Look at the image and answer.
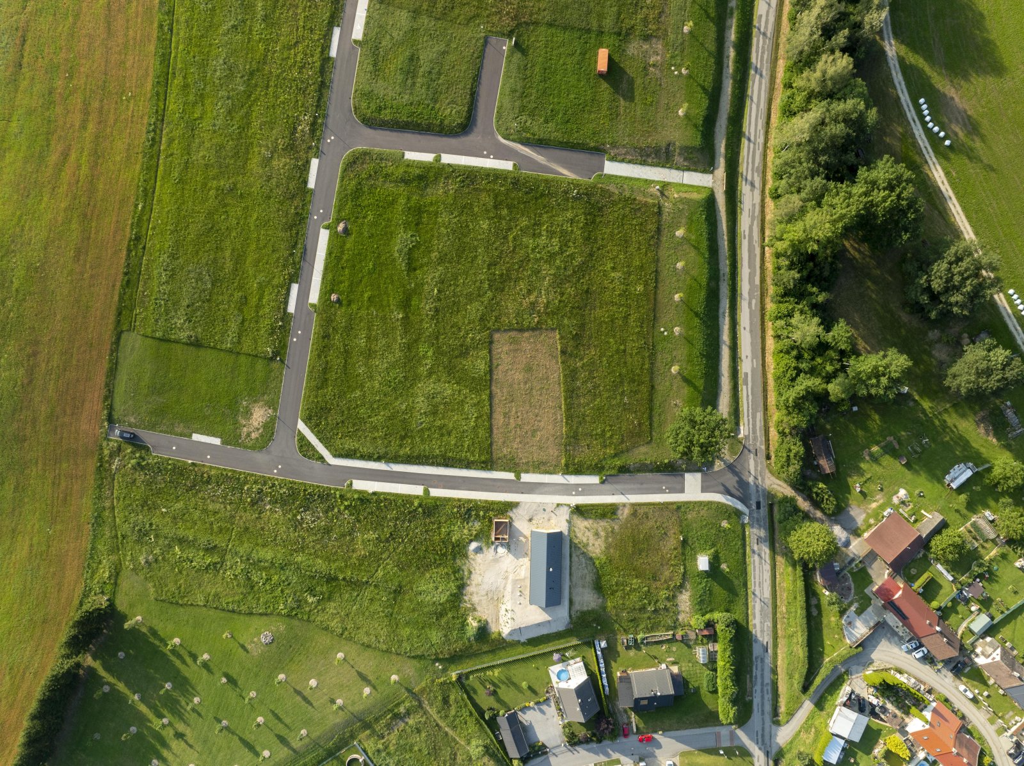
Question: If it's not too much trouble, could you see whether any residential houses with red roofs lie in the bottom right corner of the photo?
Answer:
Yes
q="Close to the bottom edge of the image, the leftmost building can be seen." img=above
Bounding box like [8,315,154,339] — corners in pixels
[497,708,530,759]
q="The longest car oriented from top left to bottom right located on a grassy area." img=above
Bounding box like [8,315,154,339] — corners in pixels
[959,685,976,701]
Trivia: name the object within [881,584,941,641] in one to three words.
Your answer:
house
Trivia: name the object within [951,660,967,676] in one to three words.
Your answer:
car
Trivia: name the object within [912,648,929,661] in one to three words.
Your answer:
vehicle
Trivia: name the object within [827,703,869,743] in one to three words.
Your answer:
building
